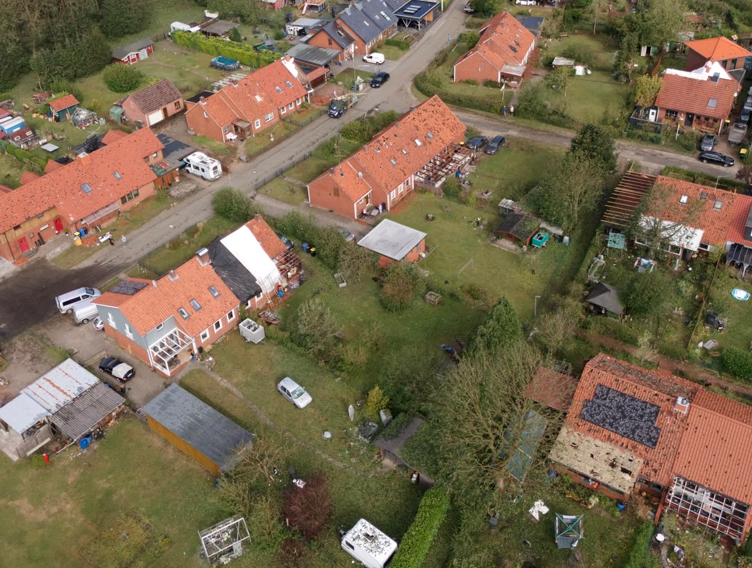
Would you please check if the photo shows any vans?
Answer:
Yes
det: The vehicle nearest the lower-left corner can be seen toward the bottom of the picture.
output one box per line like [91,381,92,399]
[89,352,138,381]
